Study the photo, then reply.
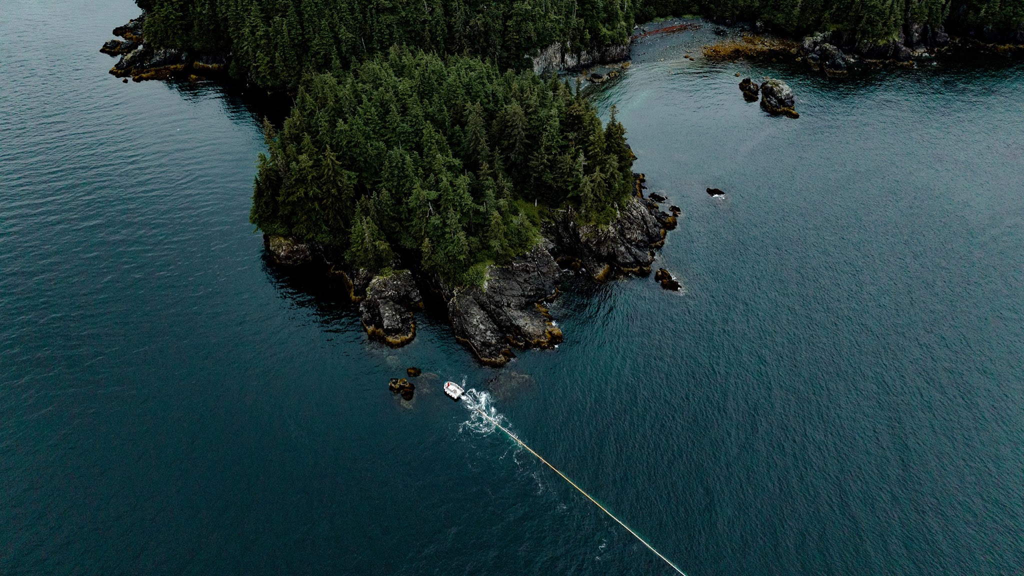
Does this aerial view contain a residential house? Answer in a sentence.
No, the frame has no residential house in it.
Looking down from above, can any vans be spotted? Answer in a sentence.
No, the scene contains no van.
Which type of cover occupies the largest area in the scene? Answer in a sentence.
The largest share of the image is taken up by water.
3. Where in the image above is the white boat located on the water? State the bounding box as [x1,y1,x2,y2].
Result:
[443,382,465,400]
